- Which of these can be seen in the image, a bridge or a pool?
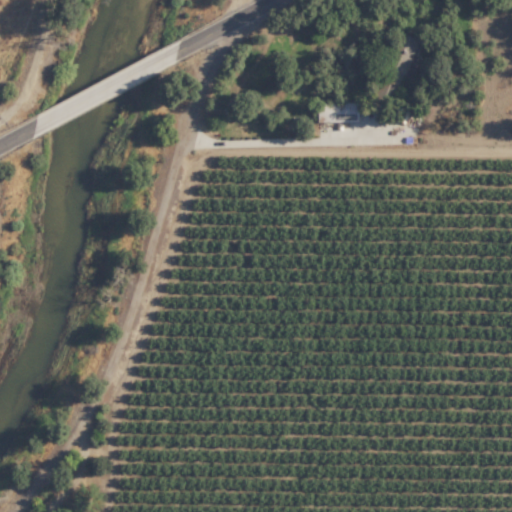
bridge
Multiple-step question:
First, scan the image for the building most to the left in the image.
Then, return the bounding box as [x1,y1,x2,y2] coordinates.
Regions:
[320,104,359,122]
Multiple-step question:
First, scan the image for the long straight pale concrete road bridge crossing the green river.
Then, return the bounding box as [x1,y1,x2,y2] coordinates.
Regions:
[34,41,180,140]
